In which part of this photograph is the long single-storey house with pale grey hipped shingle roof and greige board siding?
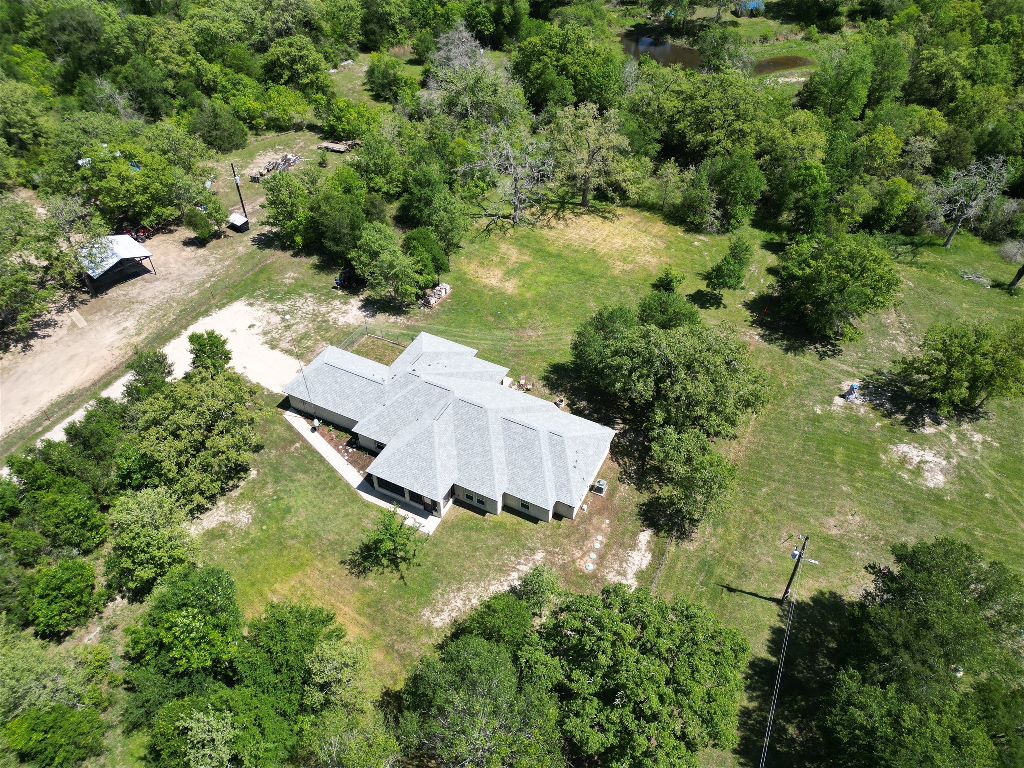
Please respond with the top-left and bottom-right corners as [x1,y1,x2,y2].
[282,332,618,525]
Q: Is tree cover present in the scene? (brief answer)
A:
Yes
